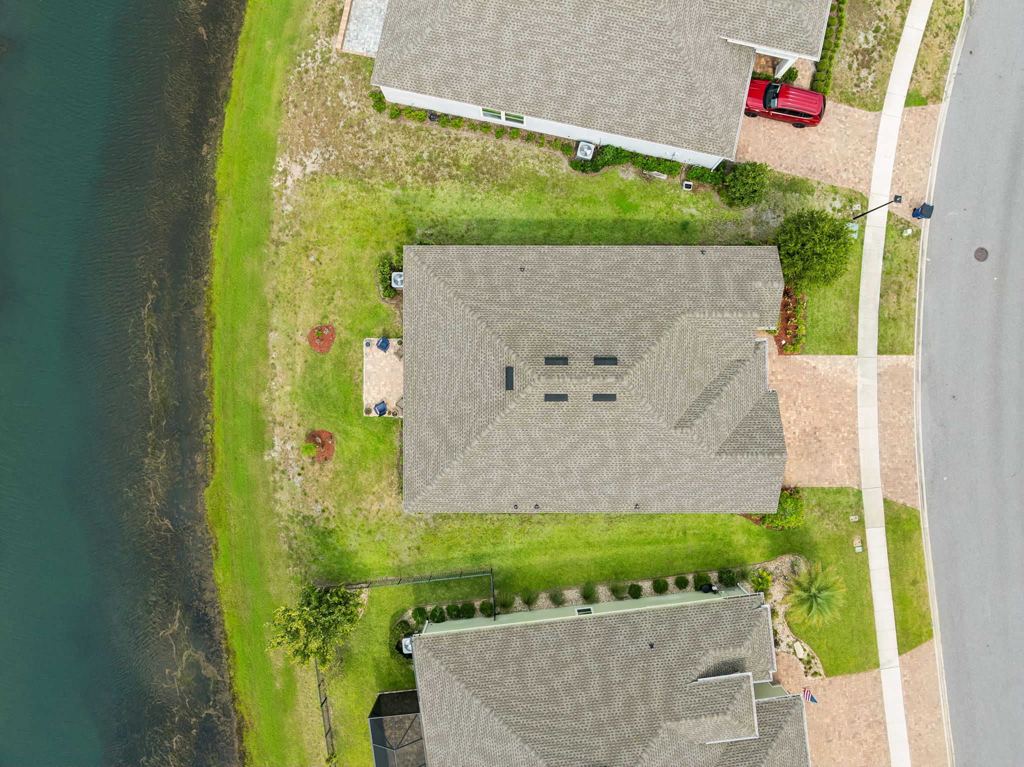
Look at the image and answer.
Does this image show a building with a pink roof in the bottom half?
No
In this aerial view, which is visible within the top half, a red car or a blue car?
red car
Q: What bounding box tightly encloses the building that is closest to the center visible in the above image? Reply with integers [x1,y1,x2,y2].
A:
[402,244,788,514]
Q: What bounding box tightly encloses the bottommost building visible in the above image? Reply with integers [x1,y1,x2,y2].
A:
[413,584,814,767]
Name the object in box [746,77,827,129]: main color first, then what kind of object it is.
red car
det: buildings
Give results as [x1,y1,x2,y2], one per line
[413,584,814,767]
[402,244,788,514]
[371,0,835,170]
